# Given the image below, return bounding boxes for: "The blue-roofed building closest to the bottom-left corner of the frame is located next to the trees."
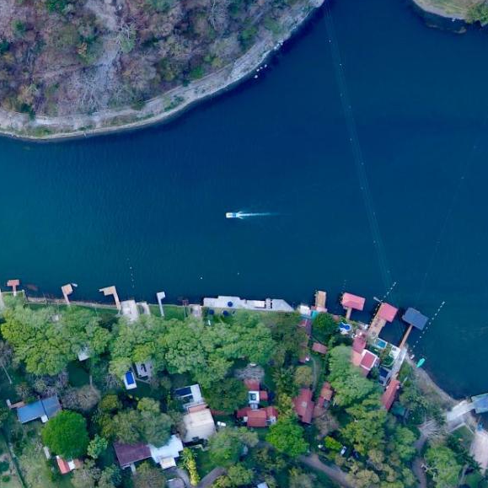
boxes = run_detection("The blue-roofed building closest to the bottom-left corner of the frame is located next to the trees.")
[6,393,61,423]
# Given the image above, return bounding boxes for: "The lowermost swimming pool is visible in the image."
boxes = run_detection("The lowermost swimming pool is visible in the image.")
[123,370,136,390]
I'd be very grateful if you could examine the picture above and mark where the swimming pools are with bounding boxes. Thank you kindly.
[337,322,353,335]
[375,337,388,350]
[123,370,136,390]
